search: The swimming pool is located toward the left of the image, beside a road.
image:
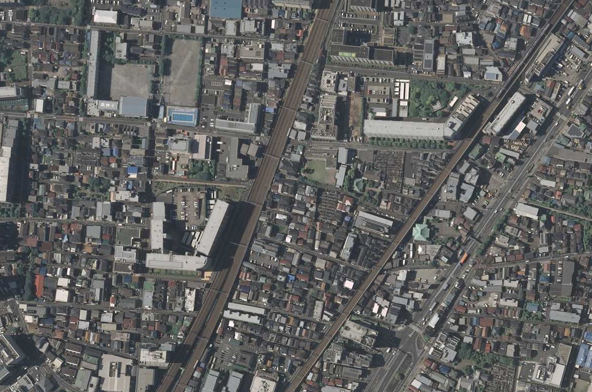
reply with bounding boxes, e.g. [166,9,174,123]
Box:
[167,108,198,127]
